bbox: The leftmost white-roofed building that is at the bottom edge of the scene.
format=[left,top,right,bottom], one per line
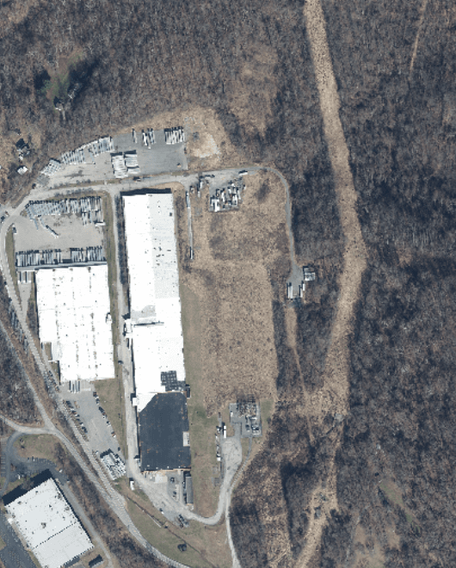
[4,478,94,568]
